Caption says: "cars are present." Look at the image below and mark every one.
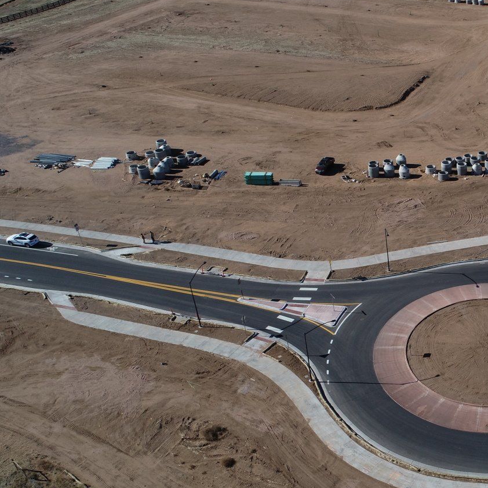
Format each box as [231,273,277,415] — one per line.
[314,155,337,173]
[4,230,40,248]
